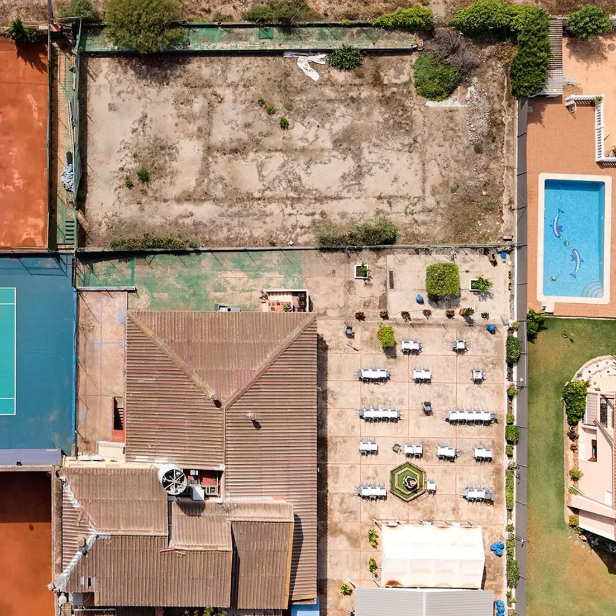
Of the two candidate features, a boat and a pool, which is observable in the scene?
pool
